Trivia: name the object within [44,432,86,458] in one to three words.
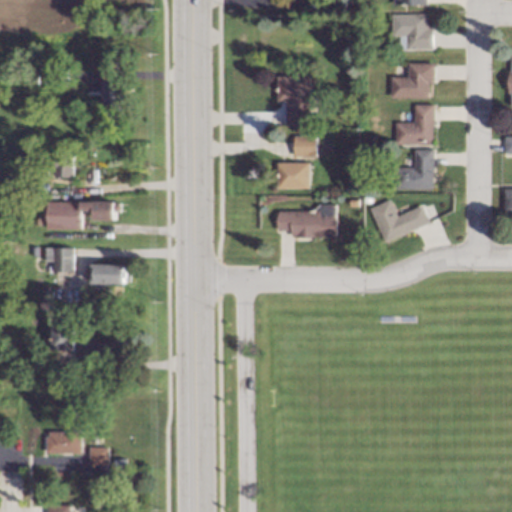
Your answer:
house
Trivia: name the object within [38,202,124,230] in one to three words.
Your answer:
house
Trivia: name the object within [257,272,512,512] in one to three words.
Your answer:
sports field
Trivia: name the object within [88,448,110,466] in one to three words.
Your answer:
building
